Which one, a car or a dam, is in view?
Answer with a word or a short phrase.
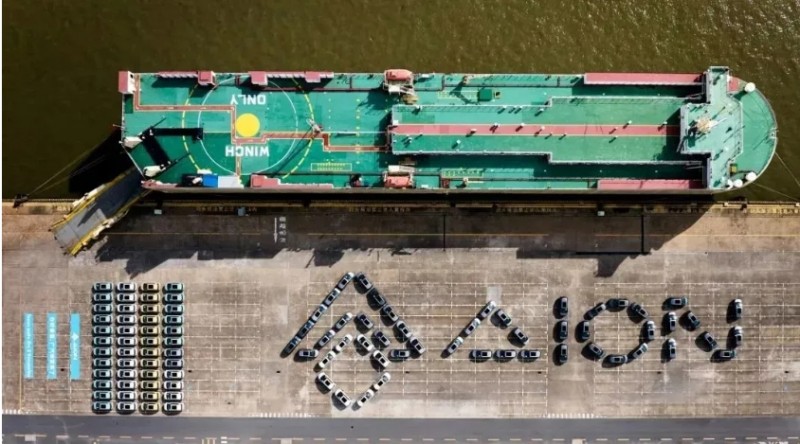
car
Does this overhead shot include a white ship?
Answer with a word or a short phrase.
No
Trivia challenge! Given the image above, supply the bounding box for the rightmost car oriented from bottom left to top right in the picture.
[630,342,648,361]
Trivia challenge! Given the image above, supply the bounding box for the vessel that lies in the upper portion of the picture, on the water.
[51,68,779,255]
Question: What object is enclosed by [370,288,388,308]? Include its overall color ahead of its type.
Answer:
black car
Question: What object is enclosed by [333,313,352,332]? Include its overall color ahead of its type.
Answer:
gray car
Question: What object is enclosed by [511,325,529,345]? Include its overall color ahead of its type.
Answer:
gray car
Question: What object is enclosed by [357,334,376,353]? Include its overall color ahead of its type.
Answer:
white car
